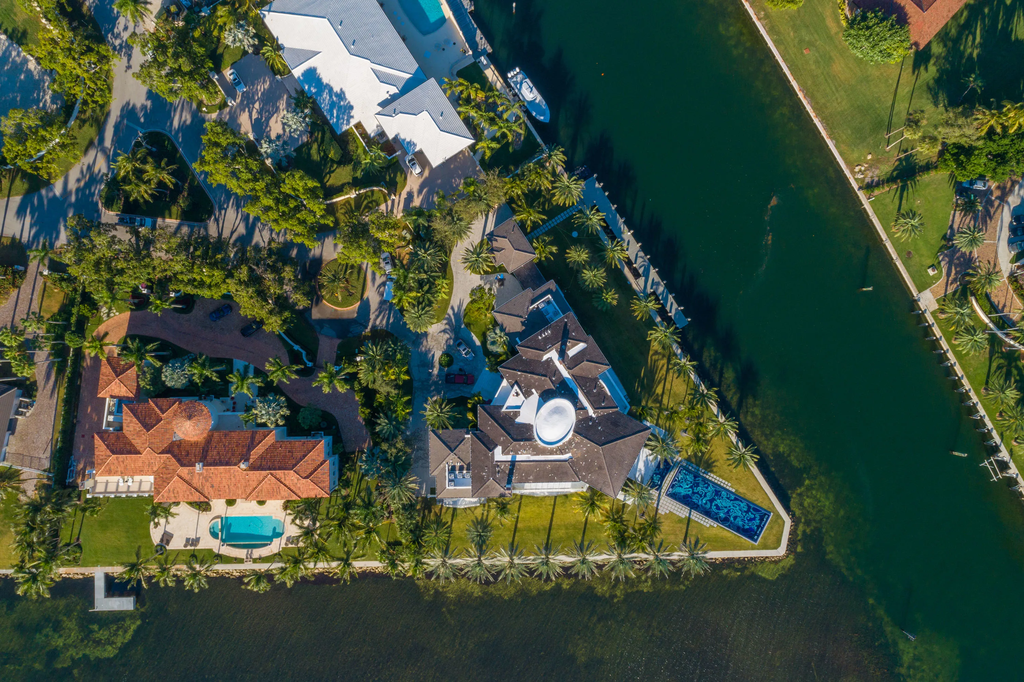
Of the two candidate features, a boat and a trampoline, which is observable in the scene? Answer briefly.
boat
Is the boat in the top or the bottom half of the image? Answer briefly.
top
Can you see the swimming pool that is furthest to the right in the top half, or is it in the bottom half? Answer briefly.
bottom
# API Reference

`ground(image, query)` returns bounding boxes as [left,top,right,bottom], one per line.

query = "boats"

[504,63,550,125]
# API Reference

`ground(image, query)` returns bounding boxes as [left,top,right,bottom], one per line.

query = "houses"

[94,359,341,504]
[429,279,679,508]
[258,0,427,139]
[0,387,37,465]
[893,0,968,54]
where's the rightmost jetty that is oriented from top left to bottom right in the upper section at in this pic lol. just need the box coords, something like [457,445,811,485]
[577,174,690,328]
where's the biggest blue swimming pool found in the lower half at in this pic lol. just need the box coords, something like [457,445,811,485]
[662,463,775,546]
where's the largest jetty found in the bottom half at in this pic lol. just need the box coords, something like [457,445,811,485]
[90,572,136,611]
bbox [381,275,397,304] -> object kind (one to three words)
vehicle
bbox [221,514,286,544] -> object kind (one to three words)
swimming pool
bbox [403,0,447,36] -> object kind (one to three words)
swimming pool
